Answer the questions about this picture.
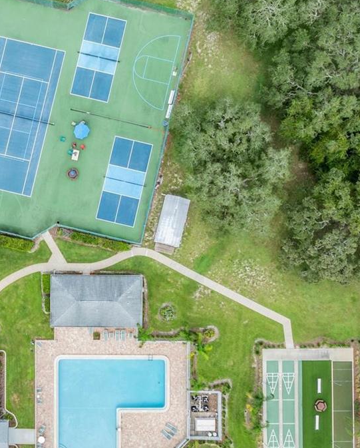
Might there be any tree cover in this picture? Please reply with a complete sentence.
Yes, the picture does contain tree cover.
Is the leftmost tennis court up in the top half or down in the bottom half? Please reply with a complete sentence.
You can find the leftmost tennis court in the top half.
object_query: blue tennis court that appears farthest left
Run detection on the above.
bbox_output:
[0,36,65,195]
